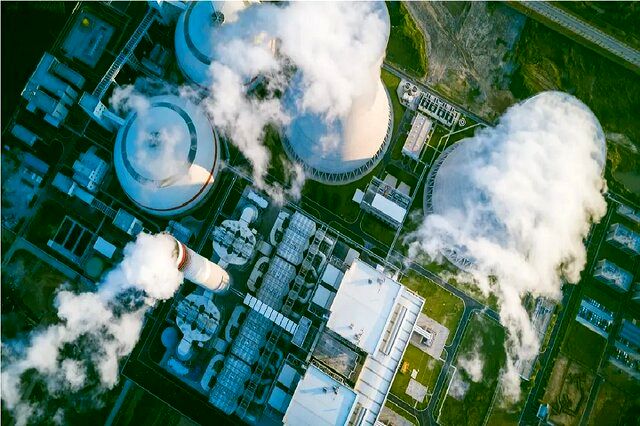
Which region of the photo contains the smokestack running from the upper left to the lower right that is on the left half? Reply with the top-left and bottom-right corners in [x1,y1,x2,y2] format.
[161,238,234,297]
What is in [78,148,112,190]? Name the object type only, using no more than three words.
house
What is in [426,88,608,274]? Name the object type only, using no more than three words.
cooling tower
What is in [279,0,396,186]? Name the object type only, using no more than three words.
cooling tower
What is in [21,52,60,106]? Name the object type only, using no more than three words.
building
